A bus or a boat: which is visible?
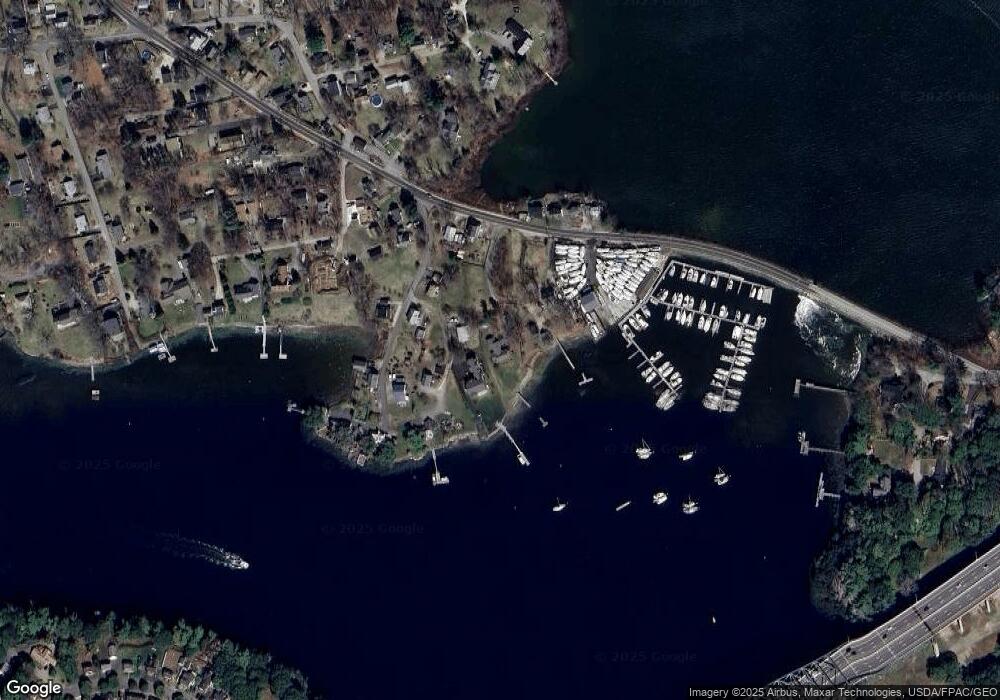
boat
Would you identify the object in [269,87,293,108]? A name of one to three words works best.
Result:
house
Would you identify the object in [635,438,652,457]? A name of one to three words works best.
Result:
boat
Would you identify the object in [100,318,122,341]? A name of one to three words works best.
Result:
house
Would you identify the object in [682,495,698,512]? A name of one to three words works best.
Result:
boat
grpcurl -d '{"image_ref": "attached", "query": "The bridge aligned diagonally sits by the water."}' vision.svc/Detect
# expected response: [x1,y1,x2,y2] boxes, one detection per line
[732,540,1000,700]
